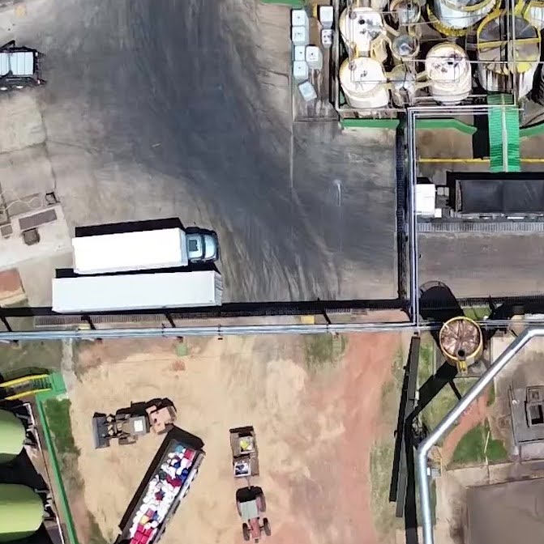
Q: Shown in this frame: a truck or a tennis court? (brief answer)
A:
truck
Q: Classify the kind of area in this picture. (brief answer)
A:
industrial area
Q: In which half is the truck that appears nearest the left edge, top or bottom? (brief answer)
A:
top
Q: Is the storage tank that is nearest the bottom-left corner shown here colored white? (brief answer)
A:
No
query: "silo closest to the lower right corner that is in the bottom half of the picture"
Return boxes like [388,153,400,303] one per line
[437,314,498,387]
